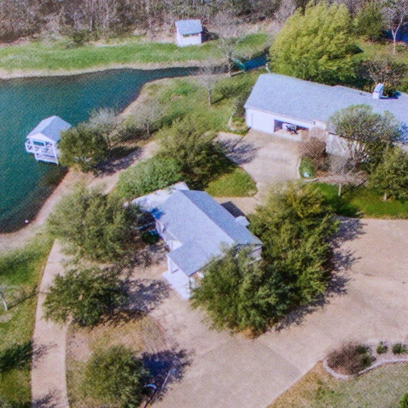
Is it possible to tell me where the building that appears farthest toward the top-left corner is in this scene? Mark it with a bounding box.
[26,121,72,171]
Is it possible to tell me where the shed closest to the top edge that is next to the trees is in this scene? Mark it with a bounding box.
[176,23,205,47]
